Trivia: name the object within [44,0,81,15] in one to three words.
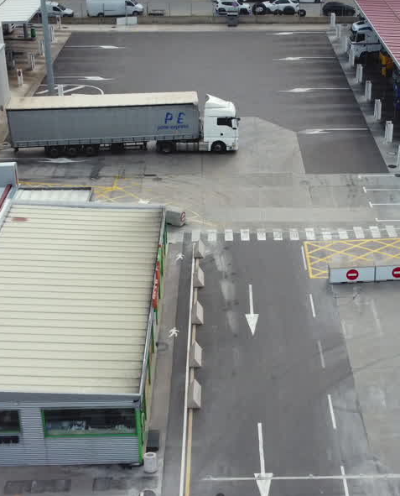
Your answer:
vehicle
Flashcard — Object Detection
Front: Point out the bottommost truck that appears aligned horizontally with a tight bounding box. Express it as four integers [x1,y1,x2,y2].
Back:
[9,94,239,158]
